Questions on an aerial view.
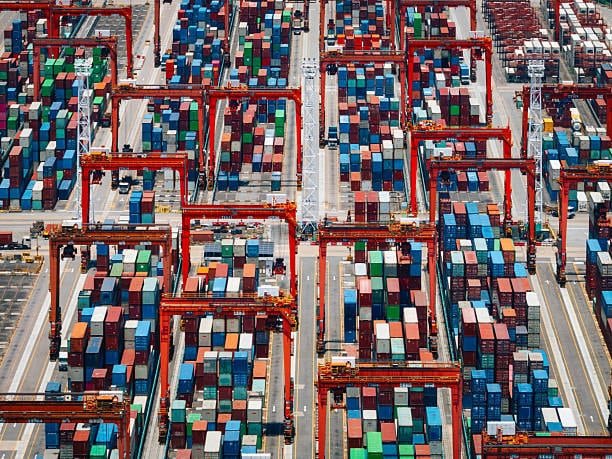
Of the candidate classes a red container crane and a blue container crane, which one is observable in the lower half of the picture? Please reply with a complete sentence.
Visible in the lower half of the picture is a red container crane.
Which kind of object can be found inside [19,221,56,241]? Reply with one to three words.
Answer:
work vehicle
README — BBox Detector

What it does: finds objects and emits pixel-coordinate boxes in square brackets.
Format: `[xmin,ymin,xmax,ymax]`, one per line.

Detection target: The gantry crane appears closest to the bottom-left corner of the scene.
[0,385,144,459]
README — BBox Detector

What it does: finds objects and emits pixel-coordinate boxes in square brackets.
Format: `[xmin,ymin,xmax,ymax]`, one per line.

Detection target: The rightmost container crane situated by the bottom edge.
[469,417,612,459]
